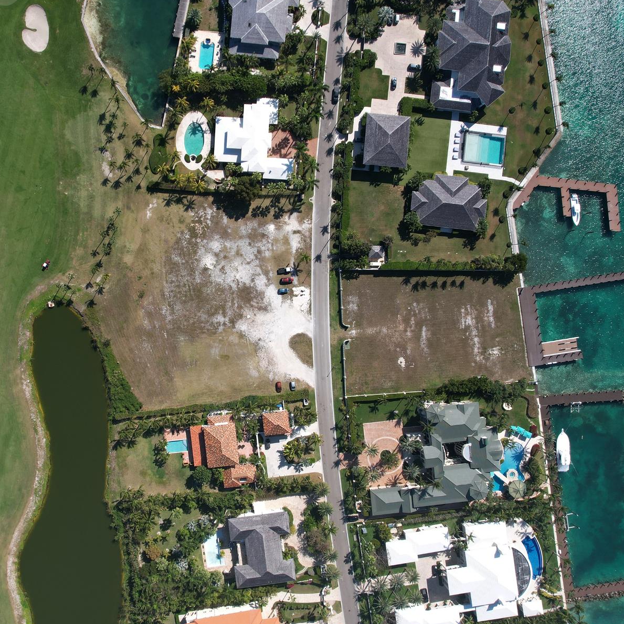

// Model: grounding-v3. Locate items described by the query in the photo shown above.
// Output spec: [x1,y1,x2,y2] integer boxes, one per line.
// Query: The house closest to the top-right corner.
[430,0,511,113]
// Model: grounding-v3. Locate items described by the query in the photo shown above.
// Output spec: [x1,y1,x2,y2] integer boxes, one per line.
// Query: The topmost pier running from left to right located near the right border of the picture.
[513,169,623,232]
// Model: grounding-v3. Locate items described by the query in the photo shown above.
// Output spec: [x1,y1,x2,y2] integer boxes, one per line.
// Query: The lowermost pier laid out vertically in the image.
[540,406,576,601]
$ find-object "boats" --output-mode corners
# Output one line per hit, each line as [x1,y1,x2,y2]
[570,193,581,224]
[555,420,578,477]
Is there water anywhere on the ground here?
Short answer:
Yes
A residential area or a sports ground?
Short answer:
residential area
